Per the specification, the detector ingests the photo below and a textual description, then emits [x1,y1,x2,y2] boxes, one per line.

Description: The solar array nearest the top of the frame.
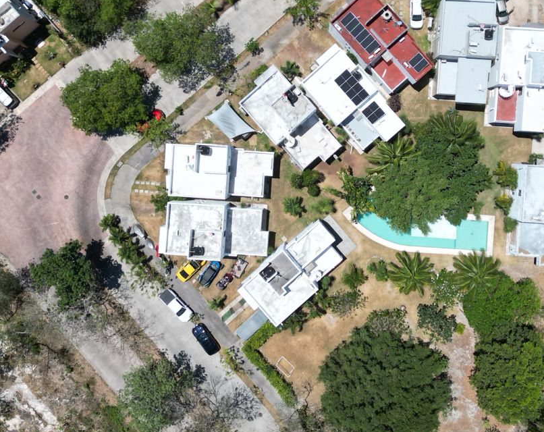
[341,13,380,54]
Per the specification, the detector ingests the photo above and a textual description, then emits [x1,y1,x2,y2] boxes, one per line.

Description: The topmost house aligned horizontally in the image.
[164,143,275,199]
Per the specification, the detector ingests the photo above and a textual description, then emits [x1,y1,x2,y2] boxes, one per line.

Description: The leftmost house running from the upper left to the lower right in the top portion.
[239,65,342,171]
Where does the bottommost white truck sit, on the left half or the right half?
left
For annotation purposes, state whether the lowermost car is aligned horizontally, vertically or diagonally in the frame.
diagonally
